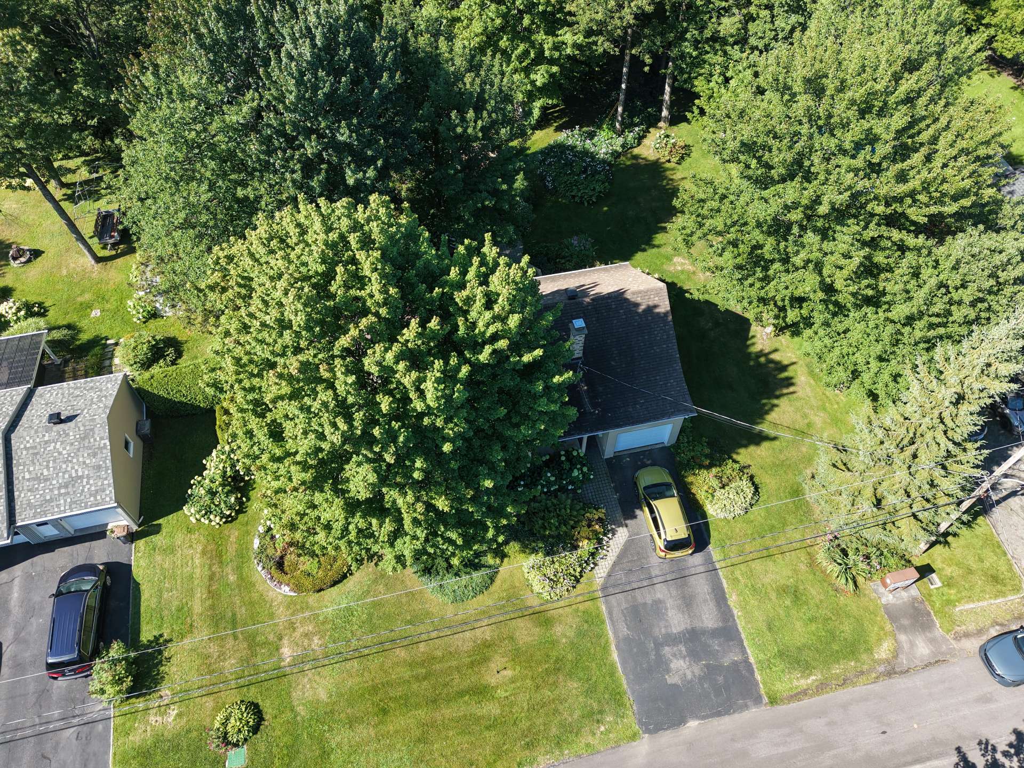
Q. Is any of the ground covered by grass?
Yes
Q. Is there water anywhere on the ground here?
No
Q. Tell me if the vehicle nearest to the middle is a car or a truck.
car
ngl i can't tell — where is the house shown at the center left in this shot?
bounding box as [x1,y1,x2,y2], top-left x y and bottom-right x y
[0,368,150,563]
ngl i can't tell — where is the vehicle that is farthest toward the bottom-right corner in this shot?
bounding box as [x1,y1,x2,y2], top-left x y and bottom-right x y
[976,617,1024,685]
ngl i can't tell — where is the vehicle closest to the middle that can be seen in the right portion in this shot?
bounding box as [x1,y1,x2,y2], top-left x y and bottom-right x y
[633,467,696,561]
